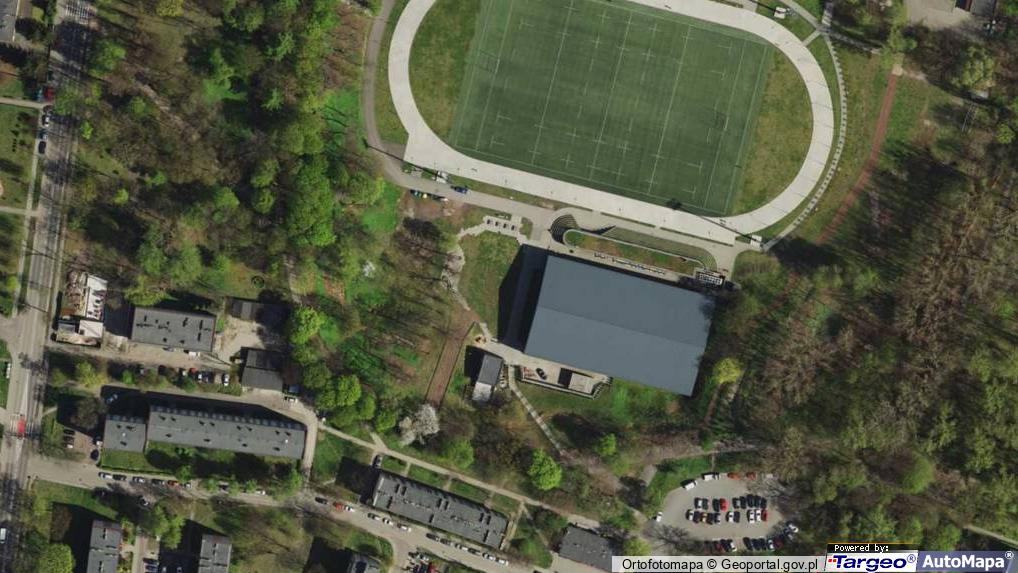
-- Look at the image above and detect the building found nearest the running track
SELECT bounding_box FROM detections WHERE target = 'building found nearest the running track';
[523,254,716,397]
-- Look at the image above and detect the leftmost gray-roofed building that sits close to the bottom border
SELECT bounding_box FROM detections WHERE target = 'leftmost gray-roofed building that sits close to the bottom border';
[86,522,121,573]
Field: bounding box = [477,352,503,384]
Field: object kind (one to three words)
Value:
building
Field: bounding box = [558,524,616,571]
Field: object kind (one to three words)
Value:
house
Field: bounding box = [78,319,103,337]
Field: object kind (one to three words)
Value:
building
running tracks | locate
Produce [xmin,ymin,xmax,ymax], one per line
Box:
[390,0,834,246]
